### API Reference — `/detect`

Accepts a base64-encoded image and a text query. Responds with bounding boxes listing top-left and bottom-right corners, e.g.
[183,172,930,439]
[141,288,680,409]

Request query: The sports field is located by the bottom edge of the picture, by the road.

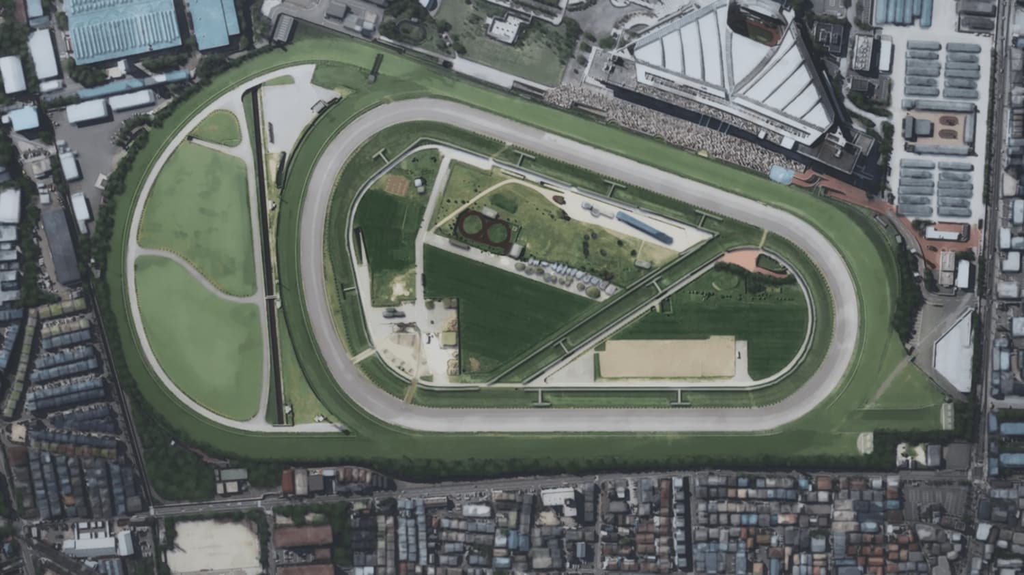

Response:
[167,520,263,575]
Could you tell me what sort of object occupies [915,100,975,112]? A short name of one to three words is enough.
barn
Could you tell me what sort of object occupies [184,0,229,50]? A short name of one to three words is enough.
building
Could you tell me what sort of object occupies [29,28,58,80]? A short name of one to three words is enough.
building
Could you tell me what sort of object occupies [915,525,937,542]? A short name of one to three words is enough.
house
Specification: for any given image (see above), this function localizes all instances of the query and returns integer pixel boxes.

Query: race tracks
[109,18,947,465]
